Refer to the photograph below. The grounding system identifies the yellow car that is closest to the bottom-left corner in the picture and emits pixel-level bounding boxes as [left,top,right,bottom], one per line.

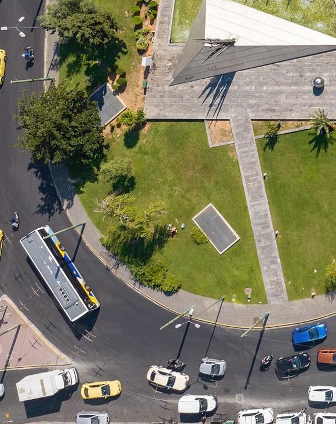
[81,378,124,399]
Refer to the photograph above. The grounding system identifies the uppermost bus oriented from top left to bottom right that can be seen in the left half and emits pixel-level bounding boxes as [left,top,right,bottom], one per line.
[24,225,105,324]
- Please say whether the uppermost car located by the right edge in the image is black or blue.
blue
